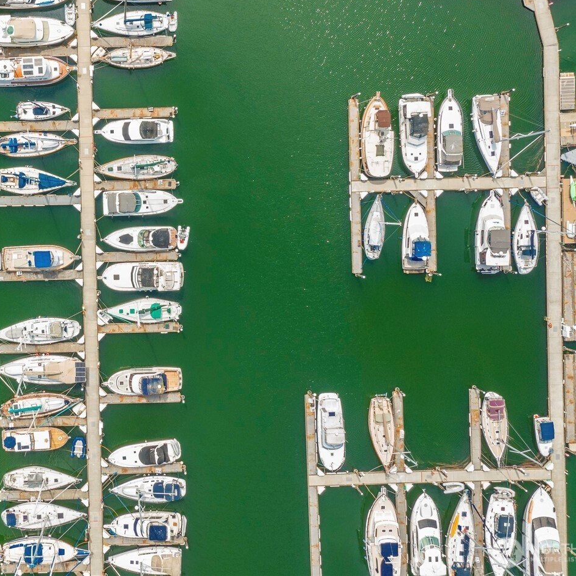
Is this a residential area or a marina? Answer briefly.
marina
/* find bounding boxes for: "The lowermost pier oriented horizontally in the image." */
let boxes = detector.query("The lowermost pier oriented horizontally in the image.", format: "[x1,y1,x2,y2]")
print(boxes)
[1,561,90,574]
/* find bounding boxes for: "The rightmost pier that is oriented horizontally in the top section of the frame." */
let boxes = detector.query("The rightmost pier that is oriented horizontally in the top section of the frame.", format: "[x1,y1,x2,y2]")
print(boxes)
[351,177,546,192]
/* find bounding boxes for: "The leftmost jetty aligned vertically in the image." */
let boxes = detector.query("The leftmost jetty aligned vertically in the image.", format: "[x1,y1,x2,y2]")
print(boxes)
[76,0,104,576]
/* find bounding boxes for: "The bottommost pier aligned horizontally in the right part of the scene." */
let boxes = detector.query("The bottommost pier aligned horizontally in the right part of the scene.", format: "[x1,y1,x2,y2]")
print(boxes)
[308,469,551,487]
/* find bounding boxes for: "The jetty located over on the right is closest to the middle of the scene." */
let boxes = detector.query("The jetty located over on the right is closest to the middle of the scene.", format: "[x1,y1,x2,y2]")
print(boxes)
[350,192,362,275]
